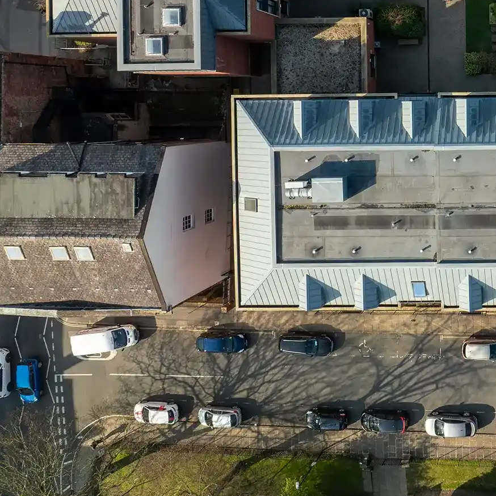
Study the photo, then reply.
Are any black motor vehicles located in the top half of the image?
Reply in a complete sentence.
No, the scene shows no black motor vehicle in the top half of the image.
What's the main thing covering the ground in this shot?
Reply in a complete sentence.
Most of the picture is covered by buildings.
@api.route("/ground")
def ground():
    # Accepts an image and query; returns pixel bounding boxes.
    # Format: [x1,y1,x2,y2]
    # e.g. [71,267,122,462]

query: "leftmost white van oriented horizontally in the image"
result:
[66,325,139,358]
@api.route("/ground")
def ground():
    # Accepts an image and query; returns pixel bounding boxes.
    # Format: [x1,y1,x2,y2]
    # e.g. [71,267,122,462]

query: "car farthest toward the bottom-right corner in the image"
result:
[426,411,479,440]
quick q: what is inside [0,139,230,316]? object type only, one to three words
building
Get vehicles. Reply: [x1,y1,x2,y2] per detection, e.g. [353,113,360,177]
[15,357,47,402]
[135,399,181,427]
[0,346,16,401]
[426,411,479,440]
[66,325,139,358]
[199,403,244,431]
[362,408,410,435]
[197,331,250,357]
[463,336,496,360]
[279,332,334,360]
